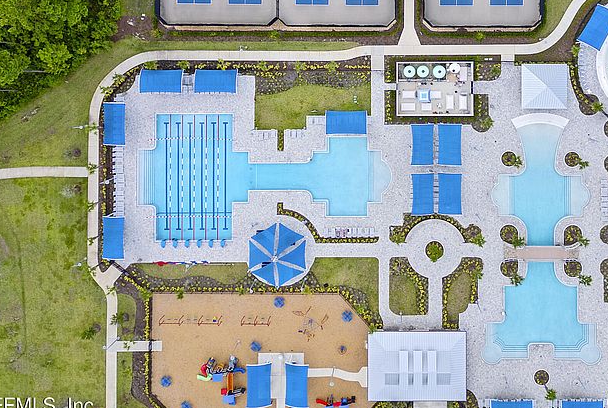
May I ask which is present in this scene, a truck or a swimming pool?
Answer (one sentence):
It is a swimming pool that can be seen here.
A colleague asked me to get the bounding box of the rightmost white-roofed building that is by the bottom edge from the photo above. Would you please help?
[367,330,466,401]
